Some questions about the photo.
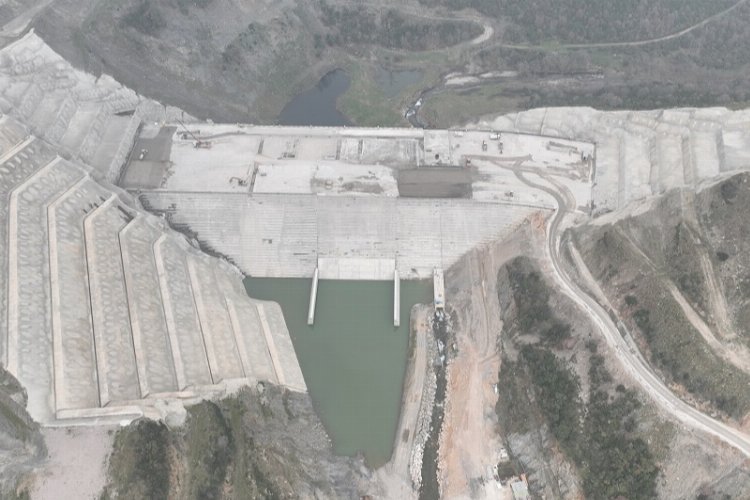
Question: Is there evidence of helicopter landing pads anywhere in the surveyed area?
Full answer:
No, there's no helicopter landing pad here.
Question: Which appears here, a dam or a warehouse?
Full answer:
There is a dam in the scene.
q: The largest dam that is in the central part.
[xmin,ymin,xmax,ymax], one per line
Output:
[119,119,595,329]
